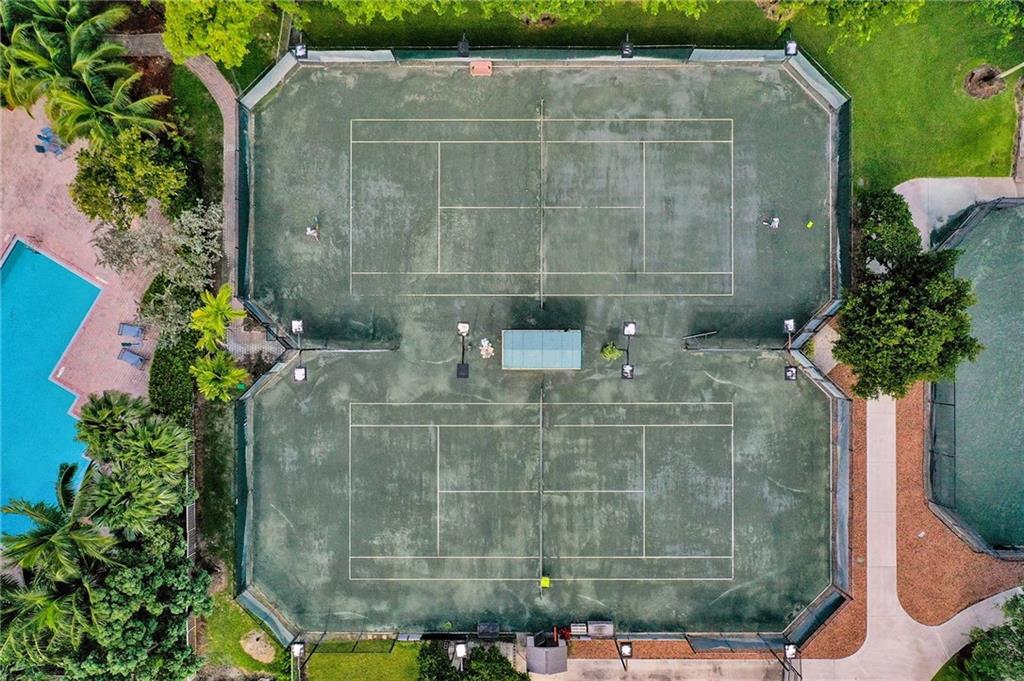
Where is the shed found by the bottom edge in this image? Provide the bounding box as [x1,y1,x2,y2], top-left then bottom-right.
[527,627,567,676]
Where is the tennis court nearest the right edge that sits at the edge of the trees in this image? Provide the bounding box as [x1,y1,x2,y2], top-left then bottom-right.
[931,201,1024,549]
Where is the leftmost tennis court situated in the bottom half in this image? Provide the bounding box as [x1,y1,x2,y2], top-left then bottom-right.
[251,349,830,633]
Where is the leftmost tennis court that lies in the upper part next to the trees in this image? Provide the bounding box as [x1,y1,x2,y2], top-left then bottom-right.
[253,65,830,349]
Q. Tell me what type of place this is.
sports ground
